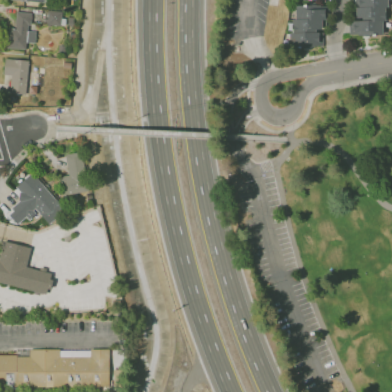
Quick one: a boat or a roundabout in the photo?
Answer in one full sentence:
There is a roundabout in the scene.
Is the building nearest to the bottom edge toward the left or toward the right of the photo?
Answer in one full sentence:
The building nearest to the bottom edge is on the left side of the image.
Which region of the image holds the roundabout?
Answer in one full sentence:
The roundabout appears toward the top right of the photo.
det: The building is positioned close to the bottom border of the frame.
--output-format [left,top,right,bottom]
[0,348,110,386]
